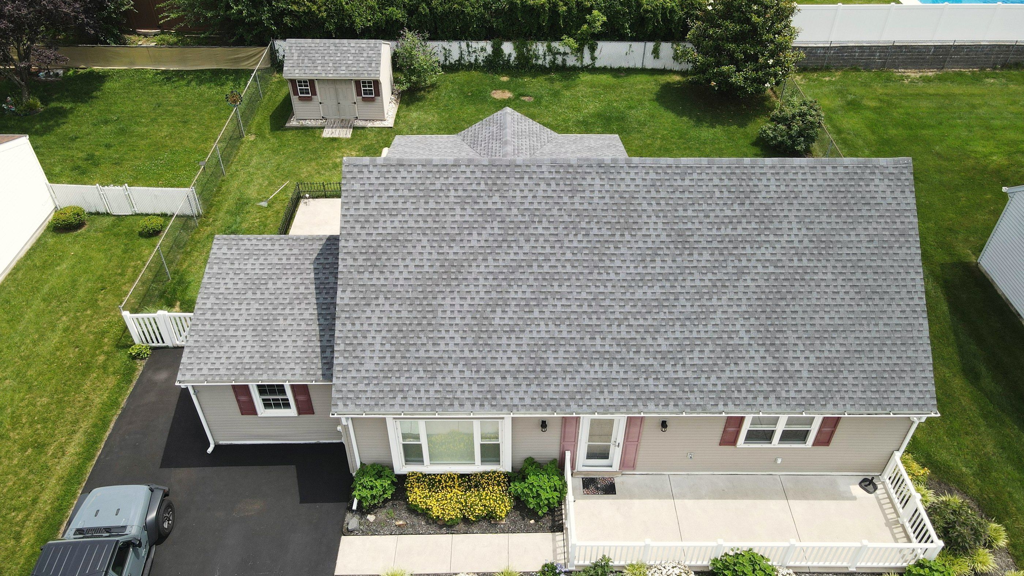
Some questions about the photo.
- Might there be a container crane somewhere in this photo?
No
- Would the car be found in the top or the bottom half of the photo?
bottom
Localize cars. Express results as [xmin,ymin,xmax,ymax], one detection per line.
[25,487,178,576]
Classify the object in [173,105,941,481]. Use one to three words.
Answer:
house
